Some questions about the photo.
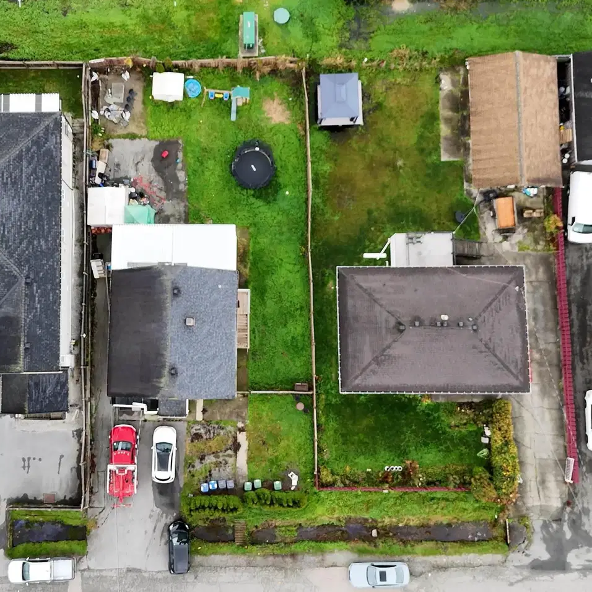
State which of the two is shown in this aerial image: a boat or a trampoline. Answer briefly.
trampoline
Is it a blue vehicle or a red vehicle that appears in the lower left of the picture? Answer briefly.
red vehicle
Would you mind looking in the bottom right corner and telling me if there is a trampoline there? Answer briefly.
No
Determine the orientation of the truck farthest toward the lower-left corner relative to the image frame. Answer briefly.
from side to side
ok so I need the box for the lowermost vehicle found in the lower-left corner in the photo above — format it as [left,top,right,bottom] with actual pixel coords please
[7,554,77,589]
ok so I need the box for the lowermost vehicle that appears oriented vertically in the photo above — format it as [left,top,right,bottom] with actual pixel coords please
[165,518,192,577]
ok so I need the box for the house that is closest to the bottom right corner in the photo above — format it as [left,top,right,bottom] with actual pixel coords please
[335,233,532,394]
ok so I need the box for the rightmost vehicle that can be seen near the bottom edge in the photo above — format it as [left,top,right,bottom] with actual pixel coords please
[346,559,411,592]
